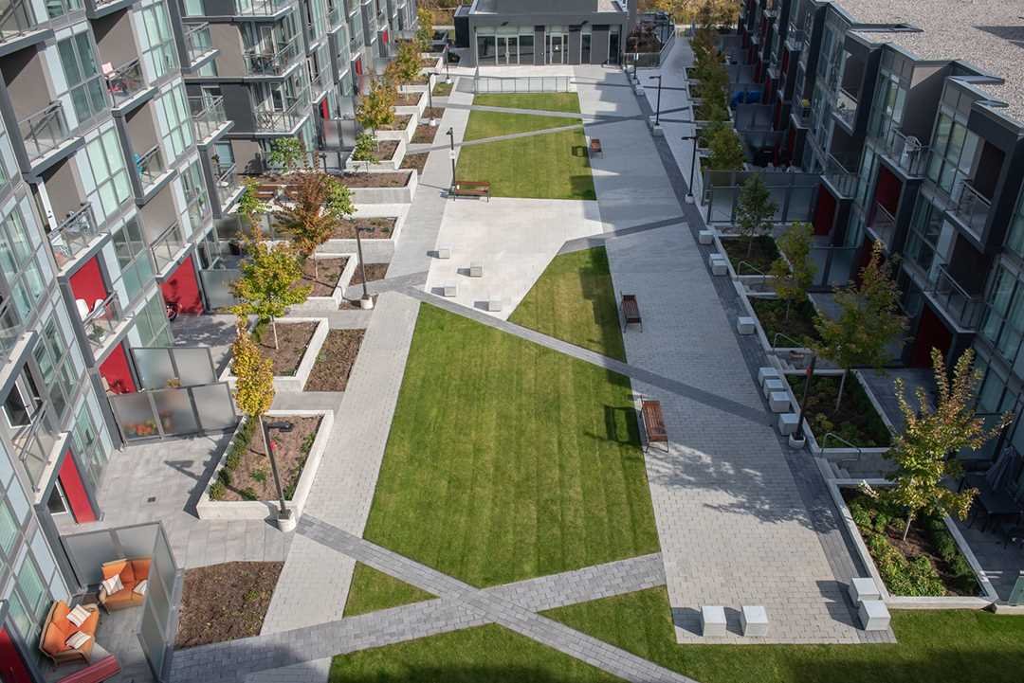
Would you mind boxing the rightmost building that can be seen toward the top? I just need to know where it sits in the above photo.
[730,0,1024,469]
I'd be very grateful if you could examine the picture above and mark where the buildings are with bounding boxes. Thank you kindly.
[730,0,1024,469]
[464,0,641,66]
[0,0,248,683]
